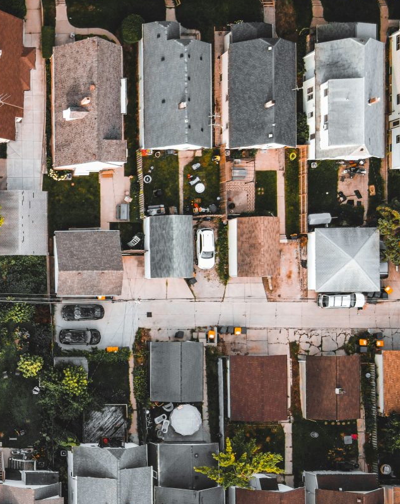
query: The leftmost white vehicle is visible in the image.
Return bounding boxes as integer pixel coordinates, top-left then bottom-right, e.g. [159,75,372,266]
[198,227,220,269]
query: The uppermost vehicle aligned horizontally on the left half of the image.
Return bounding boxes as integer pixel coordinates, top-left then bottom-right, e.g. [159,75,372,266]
[62,301,105,321]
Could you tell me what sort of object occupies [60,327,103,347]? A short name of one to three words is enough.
car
